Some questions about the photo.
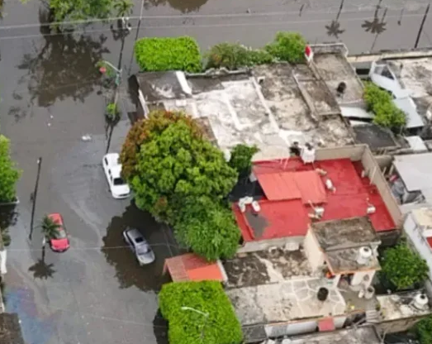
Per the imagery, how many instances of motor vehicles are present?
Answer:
3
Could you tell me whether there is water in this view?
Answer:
Yes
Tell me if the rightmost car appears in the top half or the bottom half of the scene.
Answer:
bottom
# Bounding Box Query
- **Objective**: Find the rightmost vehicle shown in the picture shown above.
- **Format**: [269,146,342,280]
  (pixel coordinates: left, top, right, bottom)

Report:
[122,224,156,264]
